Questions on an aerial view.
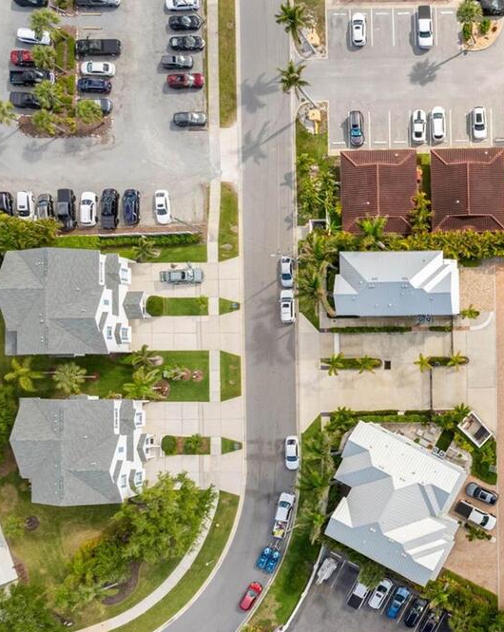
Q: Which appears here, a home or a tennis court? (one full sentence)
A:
Looking from above, you can make out a home.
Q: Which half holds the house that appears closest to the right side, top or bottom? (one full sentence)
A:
The top half of the photo is where the house that appears closest to the right side is.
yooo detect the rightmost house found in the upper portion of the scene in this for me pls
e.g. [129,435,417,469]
[430,147,504,232]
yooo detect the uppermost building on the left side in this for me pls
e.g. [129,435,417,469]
[0,247,152,353]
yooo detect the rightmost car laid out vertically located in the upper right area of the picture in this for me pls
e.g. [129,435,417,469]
[471,106,487,141]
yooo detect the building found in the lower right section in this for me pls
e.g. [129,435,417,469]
[325,421,465,584]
